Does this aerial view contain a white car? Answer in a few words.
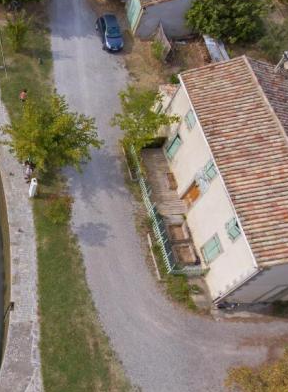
No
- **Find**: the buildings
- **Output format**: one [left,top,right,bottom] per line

[153,55,288,302]
[120,0,213,36]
